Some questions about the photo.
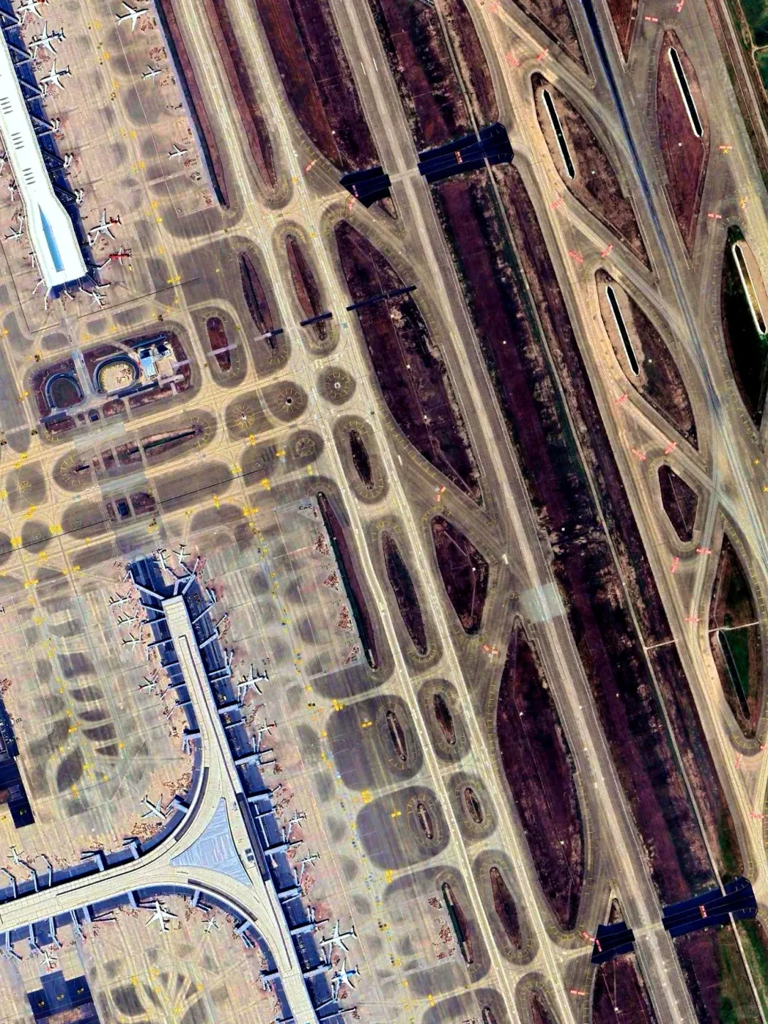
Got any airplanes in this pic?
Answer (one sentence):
Yes, the picture does show an airplane.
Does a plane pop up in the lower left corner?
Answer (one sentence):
Yes, a plane is visible in the lower left corner.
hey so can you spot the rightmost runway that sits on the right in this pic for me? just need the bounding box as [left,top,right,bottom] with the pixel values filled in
[567,0,768,565]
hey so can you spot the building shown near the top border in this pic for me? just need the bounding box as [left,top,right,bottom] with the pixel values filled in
[0,30,87,287]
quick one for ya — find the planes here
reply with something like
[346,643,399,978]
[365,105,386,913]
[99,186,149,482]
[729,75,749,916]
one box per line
[259,719,276,736]
[114,2,148,31]
[301,851,320,867]
[138,679,157,696]
[167,146,187,163]
[90,291,106,309]
[17,0,48,18]
[117,614,135,631]
[146,901,177,935]
[141,67,161,84]
[139,795,165,819]
[332,962,361,992]
[90,211,121,241]
[237,666,269,697]
[40,60,72,90]
[289,811,307,828]
[321,925,356,956]
[172,546,190,563]
[152,550,170,570]
[109,595,129,612]
[5,847,22,863]
[5,228,23,245]
[28,23,65,55]
[39,952,56,971]
[201,917,217,934]
[109,246,130,265]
